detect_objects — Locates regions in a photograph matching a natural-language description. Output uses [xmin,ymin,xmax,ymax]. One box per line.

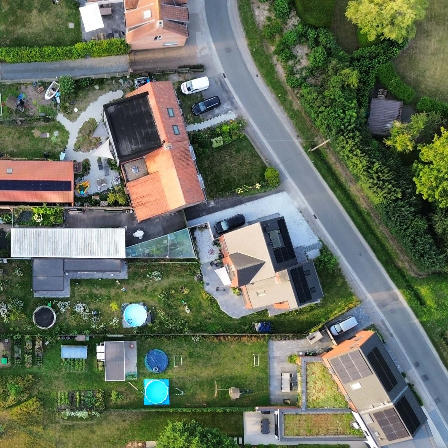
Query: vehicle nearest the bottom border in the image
[327,316,361,336]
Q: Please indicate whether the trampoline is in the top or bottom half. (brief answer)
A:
bottom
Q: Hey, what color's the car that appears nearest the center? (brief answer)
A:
black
